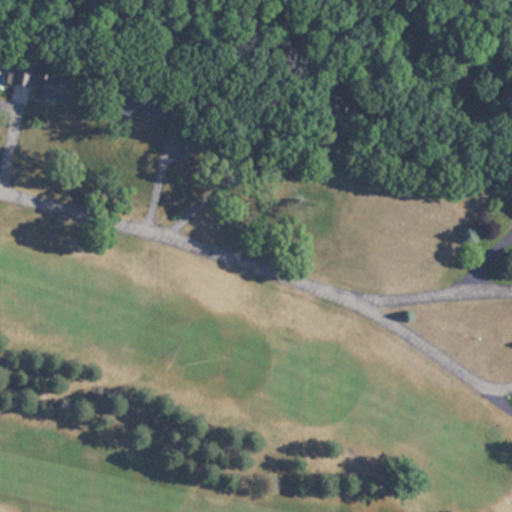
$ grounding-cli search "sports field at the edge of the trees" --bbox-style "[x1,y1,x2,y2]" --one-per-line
[166,270,270,408]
